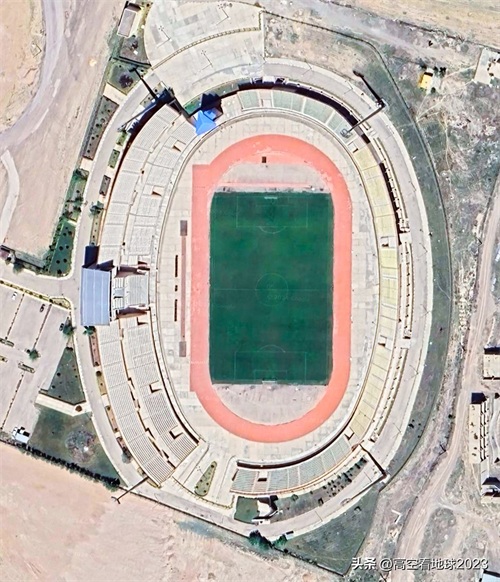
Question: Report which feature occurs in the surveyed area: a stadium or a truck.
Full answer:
The one in the frame is a stadium.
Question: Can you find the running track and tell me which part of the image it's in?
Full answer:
You can find the running track in the center area of the picture.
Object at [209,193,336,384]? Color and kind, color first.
green soccer field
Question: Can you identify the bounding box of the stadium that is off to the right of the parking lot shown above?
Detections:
[81,76,410,493]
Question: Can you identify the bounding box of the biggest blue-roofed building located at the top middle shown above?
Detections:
[198,104,226,135]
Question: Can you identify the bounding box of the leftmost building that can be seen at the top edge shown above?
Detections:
[116,7,141,38]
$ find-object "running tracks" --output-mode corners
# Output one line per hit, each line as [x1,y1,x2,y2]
[190,135,352,443]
